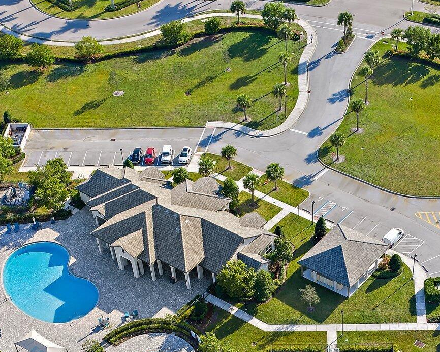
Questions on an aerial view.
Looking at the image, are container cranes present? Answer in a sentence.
No, I can't see a single container crane in this photo.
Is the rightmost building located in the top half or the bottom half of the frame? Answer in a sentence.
The rightmost building sits in the bottom half of the picture.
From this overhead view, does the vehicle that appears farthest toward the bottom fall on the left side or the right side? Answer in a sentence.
You can find the vehicle that appears farthest toward the bottom on the right side of the picture.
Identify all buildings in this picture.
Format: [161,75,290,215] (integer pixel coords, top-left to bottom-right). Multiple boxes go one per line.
[298,223,389,296]
[1,122,28,152]
[74,165,279,289]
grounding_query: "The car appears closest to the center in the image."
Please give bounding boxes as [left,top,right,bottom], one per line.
[178,145,190,161]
